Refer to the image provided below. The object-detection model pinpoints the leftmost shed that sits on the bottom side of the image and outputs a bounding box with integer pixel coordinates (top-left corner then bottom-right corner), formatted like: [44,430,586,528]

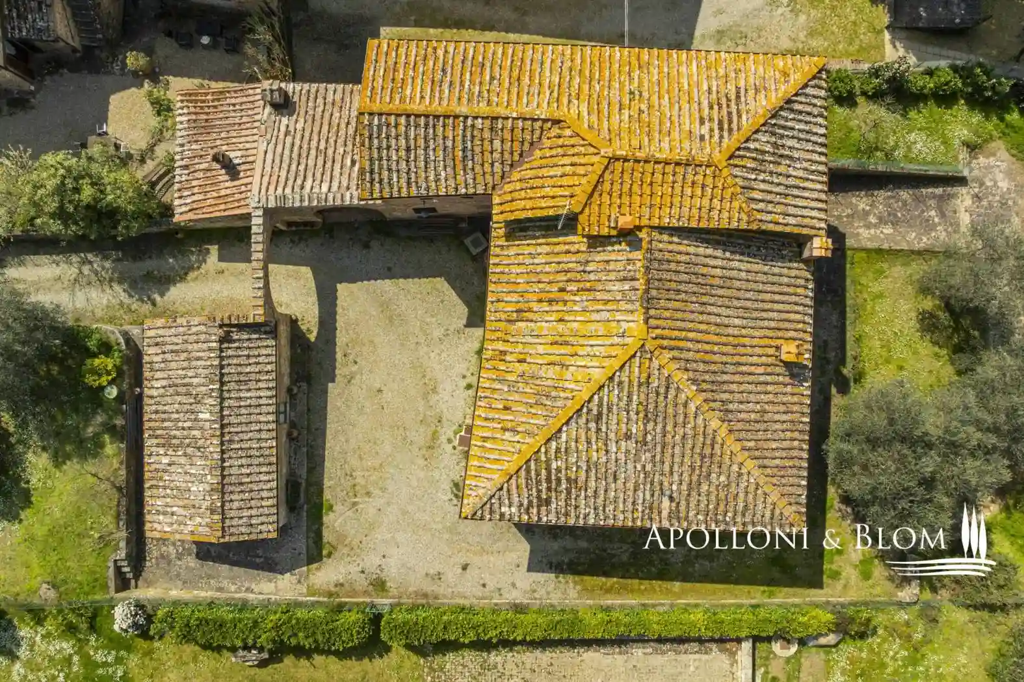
[141,313,291,546]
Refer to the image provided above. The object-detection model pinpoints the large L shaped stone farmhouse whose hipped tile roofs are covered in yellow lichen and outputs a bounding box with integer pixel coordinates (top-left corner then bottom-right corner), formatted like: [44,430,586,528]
[356,36,831,531]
